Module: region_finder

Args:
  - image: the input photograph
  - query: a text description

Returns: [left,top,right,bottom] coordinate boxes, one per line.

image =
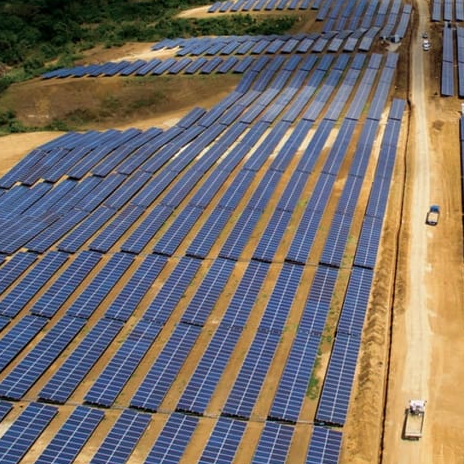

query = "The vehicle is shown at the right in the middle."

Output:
[427,208,439,224]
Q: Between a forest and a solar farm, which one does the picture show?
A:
solar farm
